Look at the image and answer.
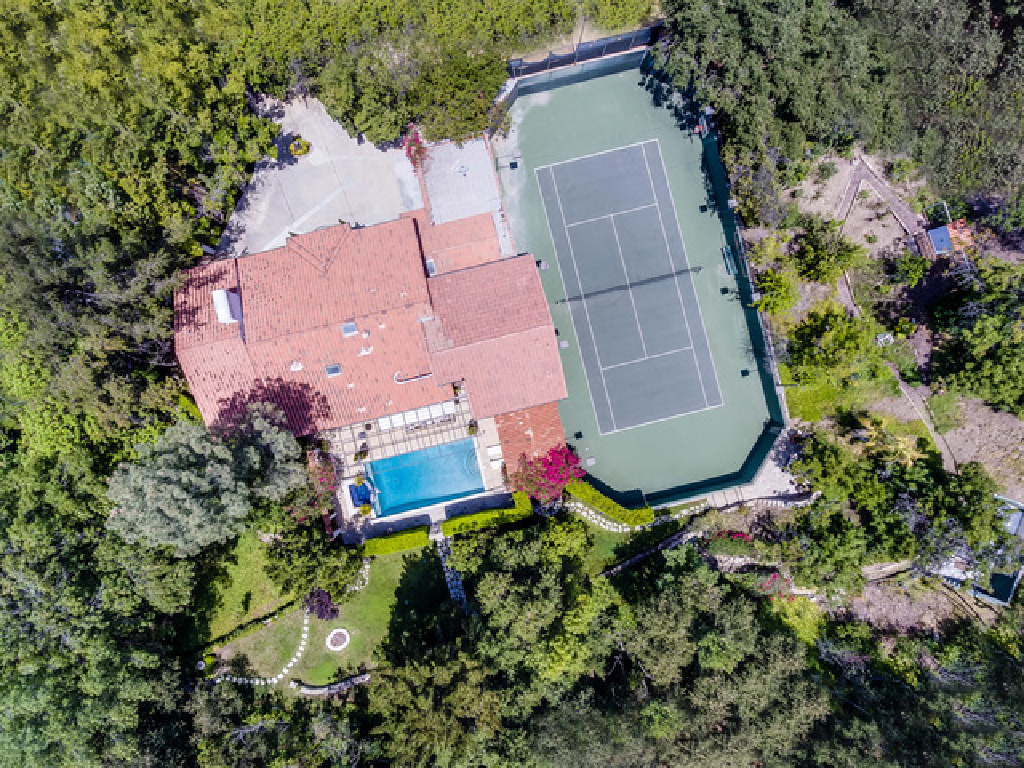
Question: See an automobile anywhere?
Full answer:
No, I find no automobile anywhere in the image.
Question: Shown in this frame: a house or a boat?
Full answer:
It is a house that can be seen here.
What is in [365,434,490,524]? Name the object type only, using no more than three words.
swimming pool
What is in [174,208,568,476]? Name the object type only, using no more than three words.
house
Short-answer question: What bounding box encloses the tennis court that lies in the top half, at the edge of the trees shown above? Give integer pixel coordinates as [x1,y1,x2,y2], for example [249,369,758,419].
[492,67,770,502]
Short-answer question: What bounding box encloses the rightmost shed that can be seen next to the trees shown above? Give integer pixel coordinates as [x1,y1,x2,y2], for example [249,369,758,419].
[992,505,1024,541]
